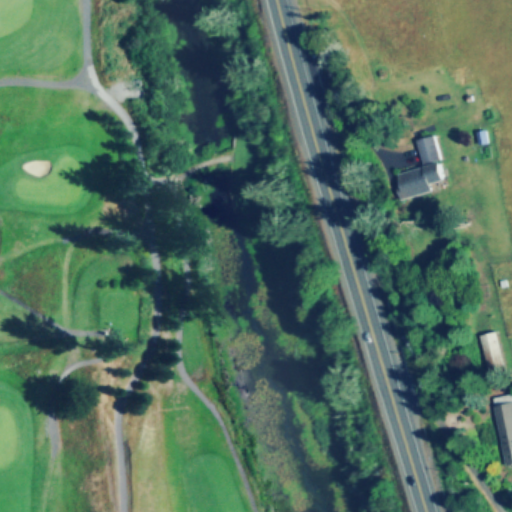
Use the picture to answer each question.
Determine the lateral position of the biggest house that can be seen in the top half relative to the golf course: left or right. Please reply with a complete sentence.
Looking at the photo, the biggest house that can be seen in the top half lies to the right of the golf course.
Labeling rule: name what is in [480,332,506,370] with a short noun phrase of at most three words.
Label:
barn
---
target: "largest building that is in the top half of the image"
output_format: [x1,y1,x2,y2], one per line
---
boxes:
[395,135,448,200]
